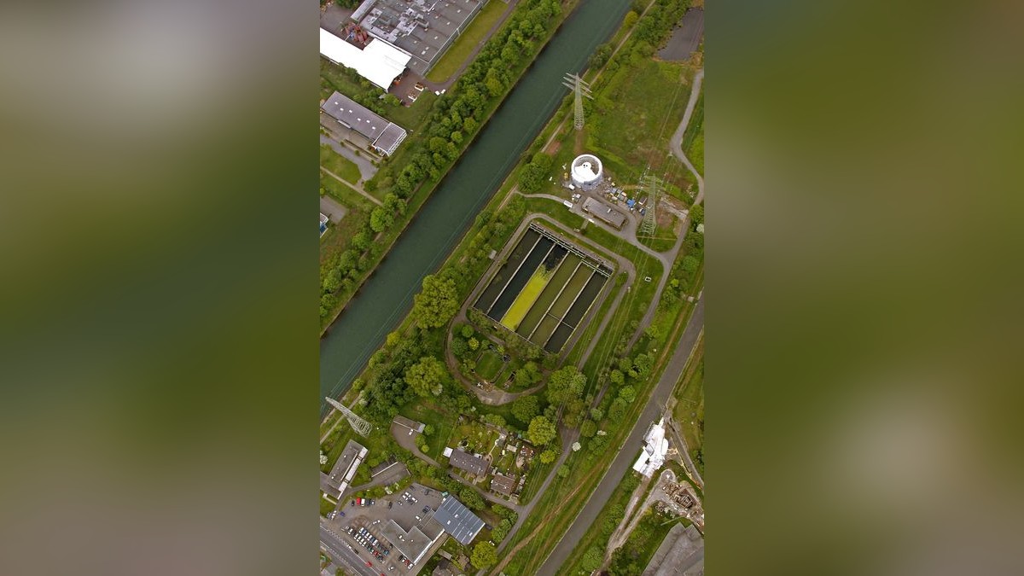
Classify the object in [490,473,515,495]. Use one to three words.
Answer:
house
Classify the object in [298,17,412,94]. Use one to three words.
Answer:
building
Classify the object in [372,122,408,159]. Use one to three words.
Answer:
building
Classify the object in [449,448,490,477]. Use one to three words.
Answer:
house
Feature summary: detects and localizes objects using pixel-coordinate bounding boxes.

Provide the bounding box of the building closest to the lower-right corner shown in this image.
[642,523,730,576]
